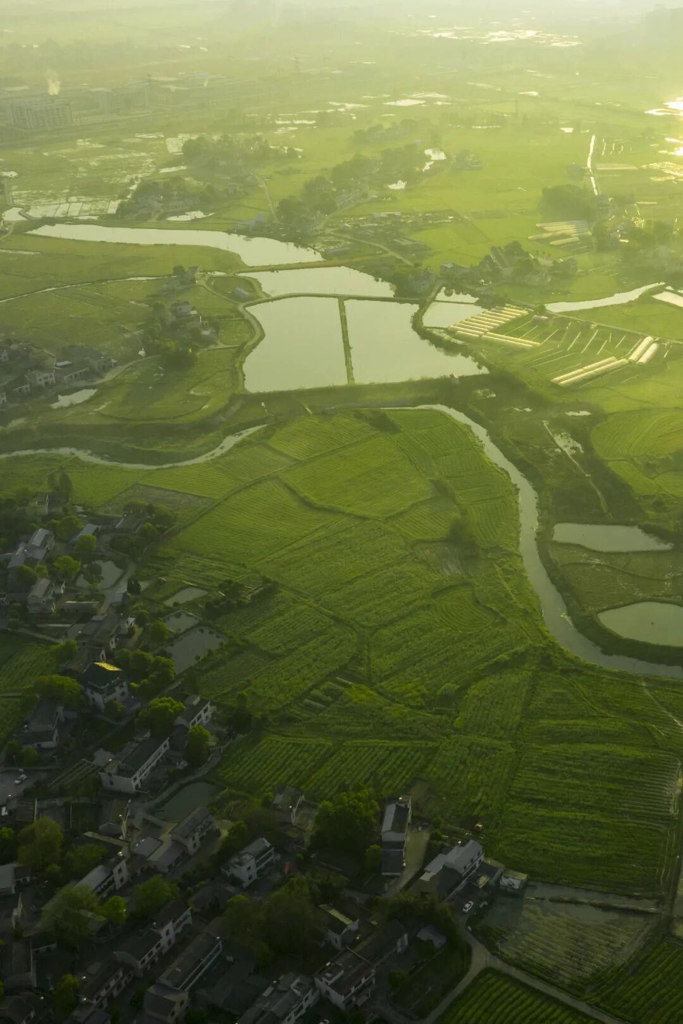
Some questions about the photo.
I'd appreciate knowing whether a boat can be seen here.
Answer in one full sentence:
No, the photo shows no boat.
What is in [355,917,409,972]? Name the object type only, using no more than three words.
house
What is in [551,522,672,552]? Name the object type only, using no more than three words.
pond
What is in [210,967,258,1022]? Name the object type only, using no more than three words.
barn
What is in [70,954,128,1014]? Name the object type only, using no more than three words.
house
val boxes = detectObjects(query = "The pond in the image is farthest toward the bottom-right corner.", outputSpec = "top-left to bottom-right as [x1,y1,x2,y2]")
[604,601,683,642]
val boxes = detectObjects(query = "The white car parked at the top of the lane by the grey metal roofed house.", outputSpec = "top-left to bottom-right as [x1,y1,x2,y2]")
[460,896,477,916]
